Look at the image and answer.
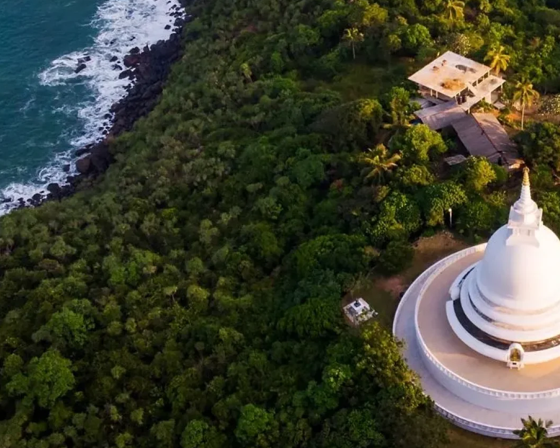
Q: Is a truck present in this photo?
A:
No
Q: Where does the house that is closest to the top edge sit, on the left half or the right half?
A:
right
